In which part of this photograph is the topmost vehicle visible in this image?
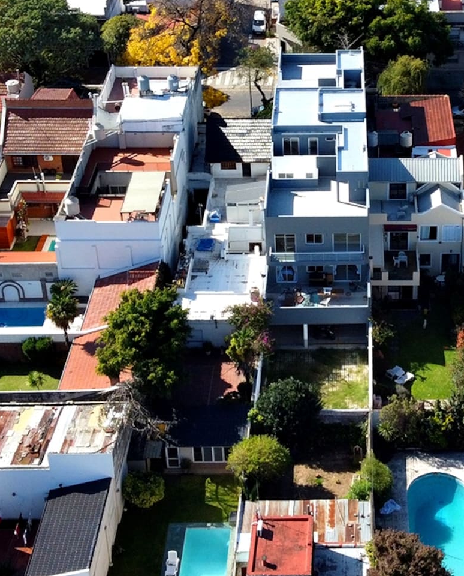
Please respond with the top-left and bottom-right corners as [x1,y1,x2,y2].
[249,9,267,33]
